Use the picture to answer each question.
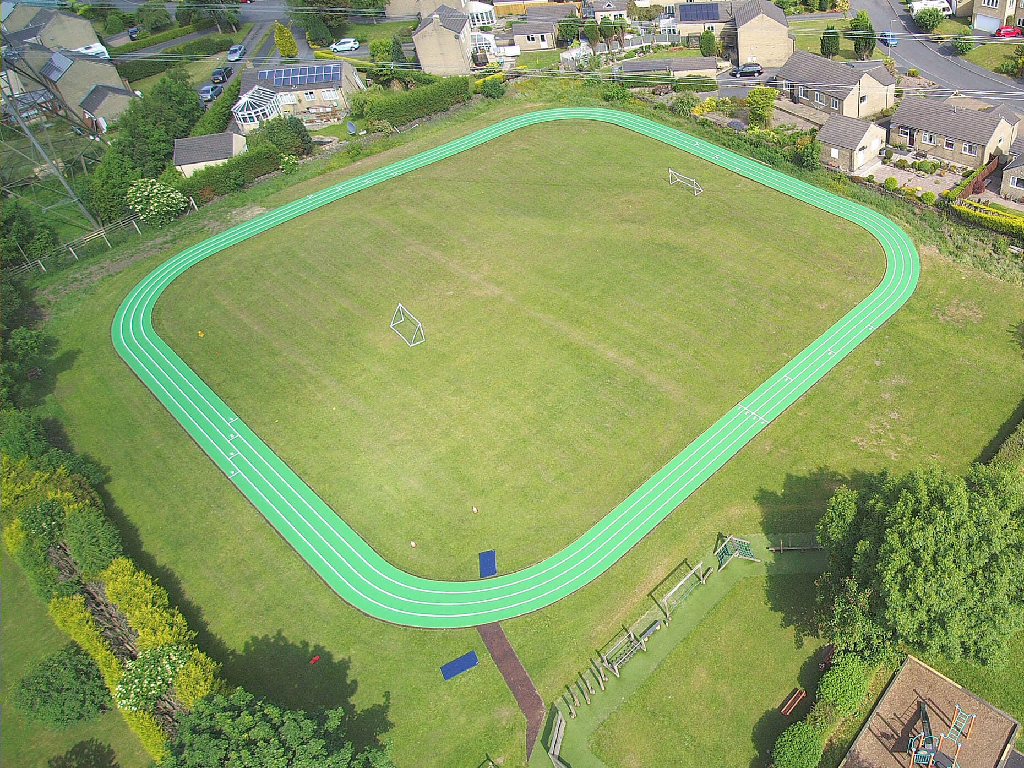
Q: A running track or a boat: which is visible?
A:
running track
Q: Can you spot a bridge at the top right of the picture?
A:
No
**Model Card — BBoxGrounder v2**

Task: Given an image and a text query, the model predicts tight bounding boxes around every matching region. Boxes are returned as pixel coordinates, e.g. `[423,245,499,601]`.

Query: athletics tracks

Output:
[110,107,922,630]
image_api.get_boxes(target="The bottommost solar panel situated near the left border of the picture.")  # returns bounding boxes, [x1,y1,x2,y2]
[41,52,72,79]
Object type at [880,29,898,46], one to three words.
car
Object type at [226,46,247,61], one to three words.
car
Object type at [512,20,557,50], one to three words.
building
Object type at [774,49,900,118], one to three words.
house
